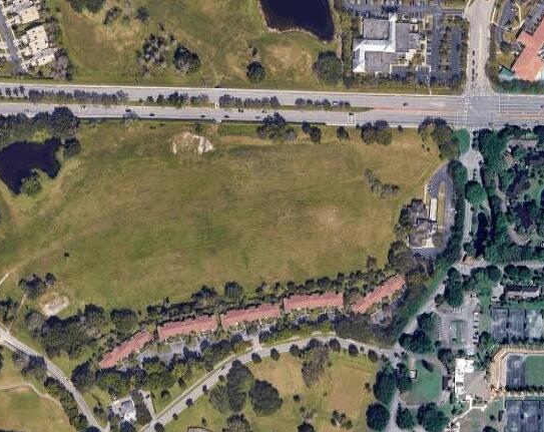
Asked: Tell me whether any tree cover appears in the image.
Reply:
Yes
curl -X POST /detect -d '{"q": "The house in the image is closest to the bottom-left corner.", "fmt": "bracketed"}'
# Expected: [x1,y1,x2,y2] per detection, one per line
[112,401,134,421]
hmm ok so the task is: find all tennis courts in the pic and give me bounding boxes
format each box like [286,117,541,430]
[509,309,526,340]
[505,400,523,432]
[506,355,524,389]
[522,400,539,432]
[491,309,509,340]
[525,355,544,388]
[525,310,544,340]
